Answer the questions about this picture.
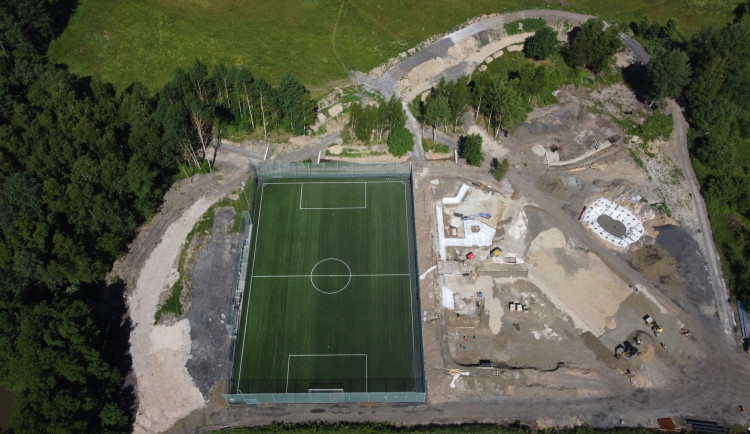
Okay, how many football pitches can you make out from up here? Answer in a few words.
1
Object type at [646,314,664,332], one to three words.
vehicle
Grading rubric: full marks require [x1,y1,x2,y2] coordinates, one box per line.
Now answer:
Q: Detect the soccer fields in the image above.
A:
[230,176,423,402]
